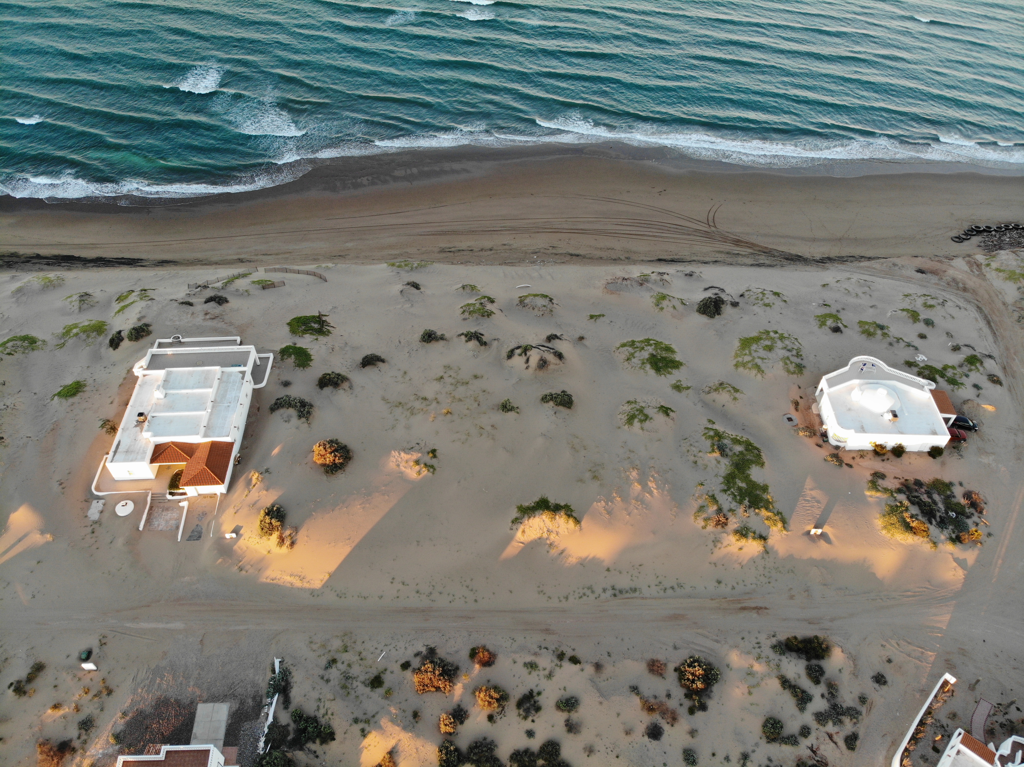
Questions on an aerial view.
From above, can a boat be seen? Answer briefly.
No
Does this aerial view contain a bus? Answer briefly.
No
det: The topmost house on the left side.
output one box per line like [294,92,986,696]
[106,345,262,500]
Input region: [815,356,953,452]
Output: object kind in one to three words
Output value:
house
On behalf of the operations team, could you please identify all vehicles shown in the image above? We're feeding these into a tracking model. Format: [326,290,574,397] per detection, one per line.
[947,426,970,445]
[949,416,981,433]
